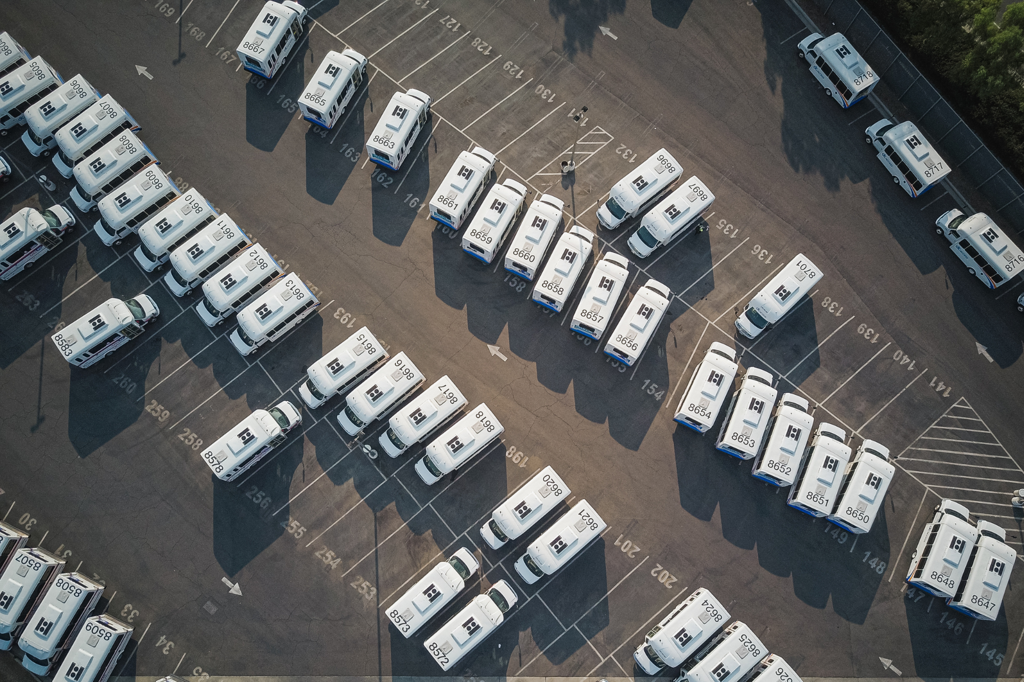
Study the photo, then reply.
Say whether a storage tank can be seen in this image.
No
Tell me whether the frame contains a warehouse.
No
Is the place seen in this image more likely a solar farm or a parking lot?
parking lot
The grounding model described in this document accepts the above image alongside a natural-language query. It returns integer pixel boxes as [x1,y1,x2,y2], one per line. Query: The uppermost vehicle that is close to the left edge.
[0,31,31,78]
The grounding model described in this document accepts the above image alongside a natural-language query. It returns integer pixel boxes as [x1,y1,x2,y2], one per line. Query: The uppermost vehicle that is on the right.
[797,25,880,112]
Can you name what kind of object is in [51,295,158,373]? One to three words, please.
vehicle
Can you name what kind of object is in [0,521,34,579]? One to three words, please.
vehicle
